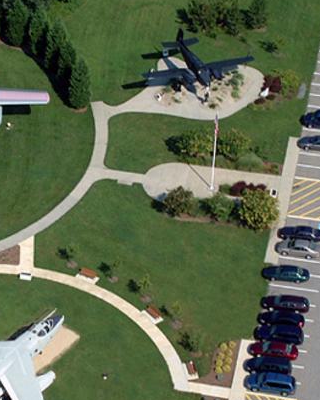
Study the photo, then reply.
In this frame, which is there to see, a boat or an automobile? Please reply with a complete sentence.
It is an automobile that can be seen here.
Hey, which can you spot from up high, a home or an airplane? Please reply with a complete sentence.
The image shows an airplane.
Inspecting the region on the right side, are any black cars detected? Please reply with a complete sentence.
Yes, a black car is visible on the right side.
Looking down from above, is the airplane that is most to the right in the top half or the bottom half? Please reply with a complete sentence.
The top half of the photo is where the airplane that is most to the right is.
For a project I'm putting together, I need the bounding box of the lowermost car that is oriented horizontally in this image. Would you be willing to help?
[245,372,296,398]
